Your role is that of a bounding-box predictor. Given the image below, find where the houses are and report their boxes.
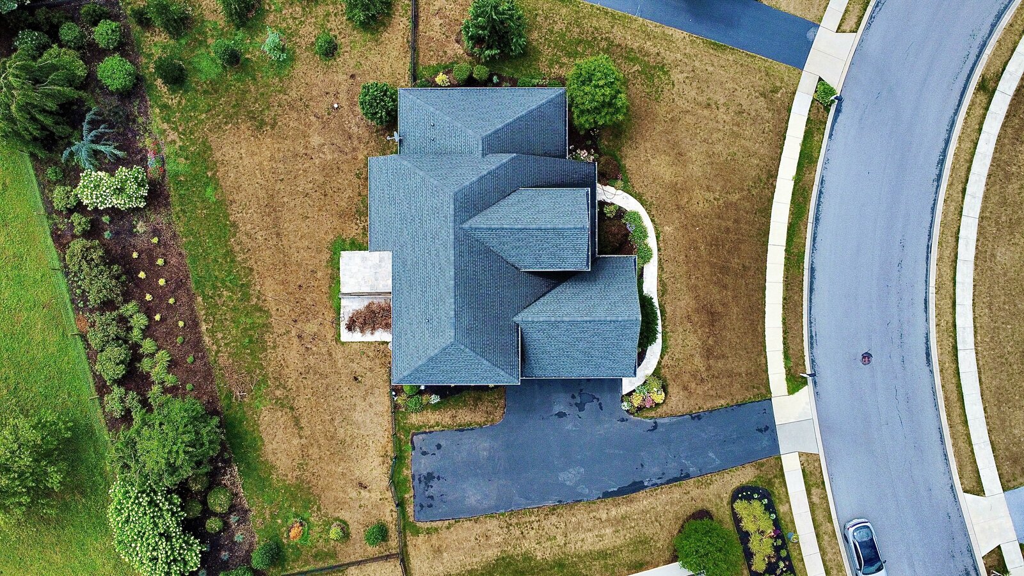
[366,85,642,386]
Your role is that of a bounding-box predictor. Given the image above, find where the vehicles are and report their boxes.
[846,519,893,576]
